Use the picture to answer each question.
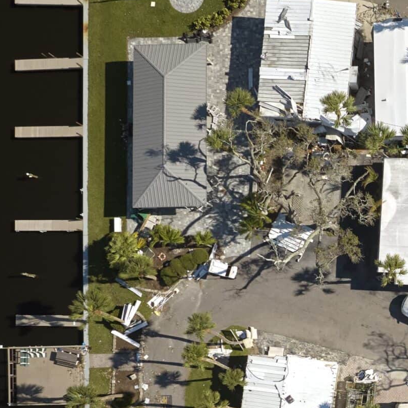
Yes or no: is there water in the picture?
Yes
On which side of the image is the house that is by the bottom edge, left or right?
right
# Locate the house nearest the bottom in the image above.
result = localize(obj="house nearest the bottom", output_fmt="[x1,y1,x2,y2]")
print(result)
[241,355,343,408]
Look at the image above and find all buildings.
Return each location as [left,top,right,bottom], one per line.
[373,20,408,134]
[257,0,360,127]
[132,43,208,210]
[377,158,408,286]
[241,355,343,408]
